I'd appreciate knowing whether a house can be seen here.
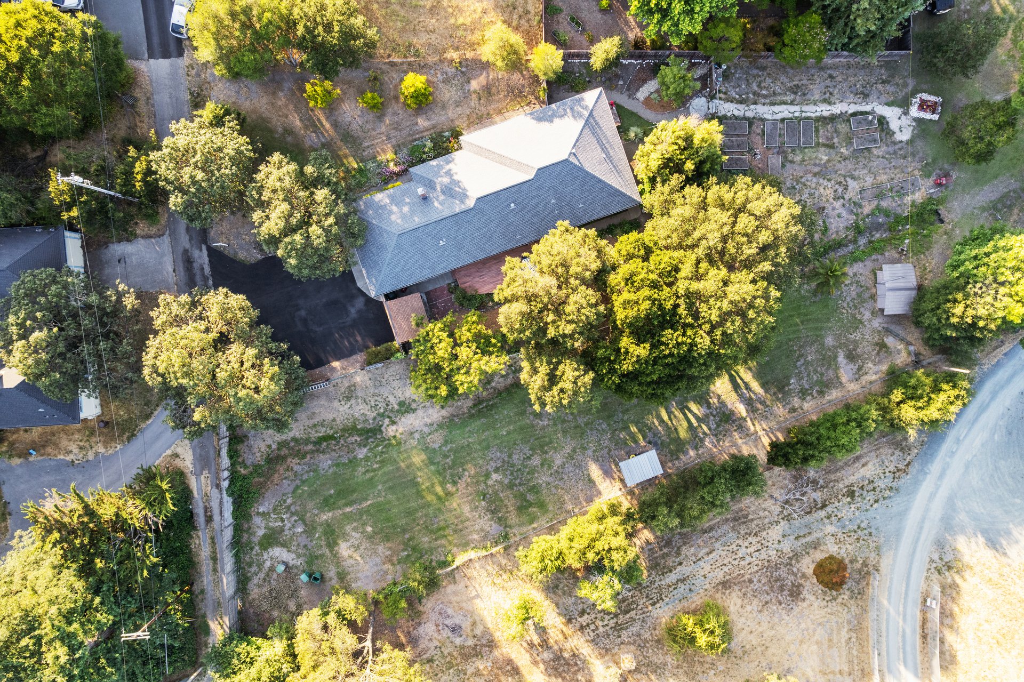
Yes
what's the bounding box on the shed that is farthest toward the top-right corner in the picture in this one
[877,263,925,315]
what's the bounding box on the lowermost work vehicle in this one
[935,174,958,187]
